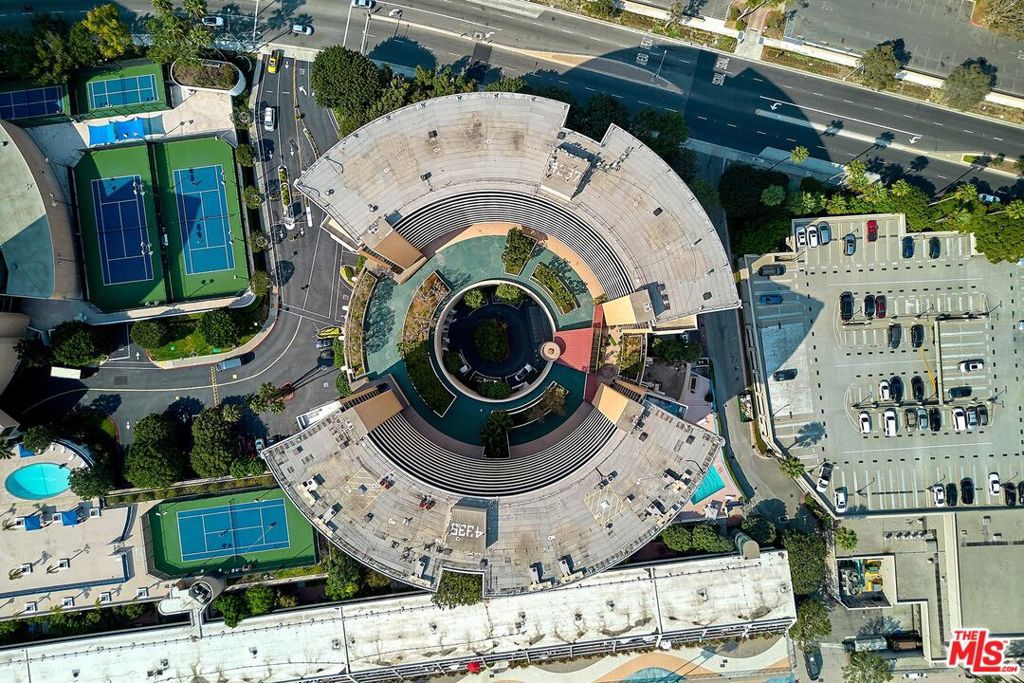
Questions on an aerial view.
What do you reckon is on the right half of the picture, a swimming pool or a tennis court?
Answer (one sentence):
Looking on the right half of the picture, you will find a swimming pool.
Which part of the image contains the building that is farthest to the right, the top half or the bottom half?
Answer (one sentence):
The building that is farthest to the right sits in the bottom half of the picture.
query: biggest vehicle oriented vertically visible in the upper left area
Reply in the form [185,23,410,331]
[266,49,279,78]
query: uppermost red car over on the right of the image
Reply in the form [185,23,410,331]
[865,218,878,244]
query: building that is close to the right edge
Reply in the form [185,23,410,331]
[827,509,1024,661]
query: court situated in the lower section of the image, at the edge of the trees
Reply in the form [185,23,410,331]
[148,489,315,579]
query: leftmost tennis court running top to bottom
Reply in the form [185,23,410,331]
[74,146,161,311]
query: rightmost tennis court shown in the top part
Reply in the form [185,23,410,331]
[155,136,245,302]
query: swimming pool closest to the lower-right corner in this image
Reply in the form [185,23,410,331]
[689,466,726,506]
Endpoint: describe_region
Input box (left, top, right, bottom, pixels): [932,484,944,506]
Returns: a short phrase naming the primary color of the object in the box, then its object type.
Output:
white vehicle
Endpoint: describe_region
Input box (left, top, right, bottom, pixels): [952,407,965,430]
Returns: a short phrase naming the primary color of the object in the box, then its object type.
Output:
white vehicle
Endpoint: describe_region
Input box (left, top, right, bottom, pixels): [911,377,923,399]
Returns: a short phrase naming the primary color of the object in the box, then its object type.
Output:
black vehicle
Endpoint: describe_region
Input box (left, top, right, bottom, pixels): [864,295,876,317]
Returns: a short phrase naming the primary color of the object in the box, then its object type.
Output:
black vehicle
